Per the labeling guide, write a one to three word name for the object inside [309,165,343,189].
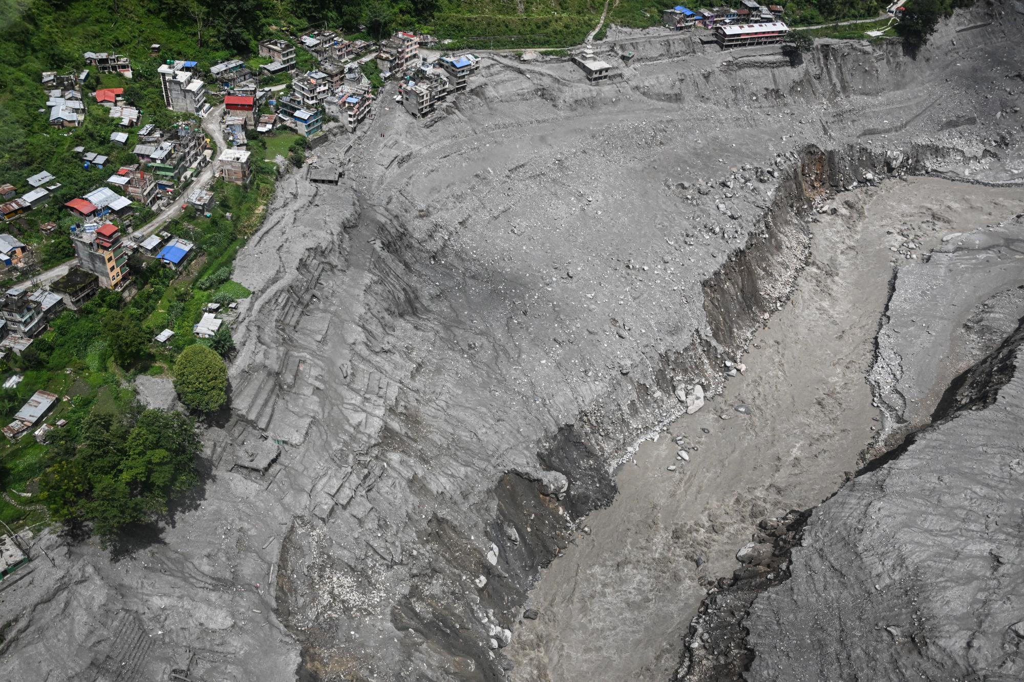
house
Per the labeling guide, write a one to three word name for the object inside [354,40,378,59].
house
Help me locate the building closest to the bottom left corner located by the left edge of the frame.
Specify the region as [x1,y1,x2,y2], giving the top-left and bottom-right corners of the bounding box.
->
[0,540,29,591]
